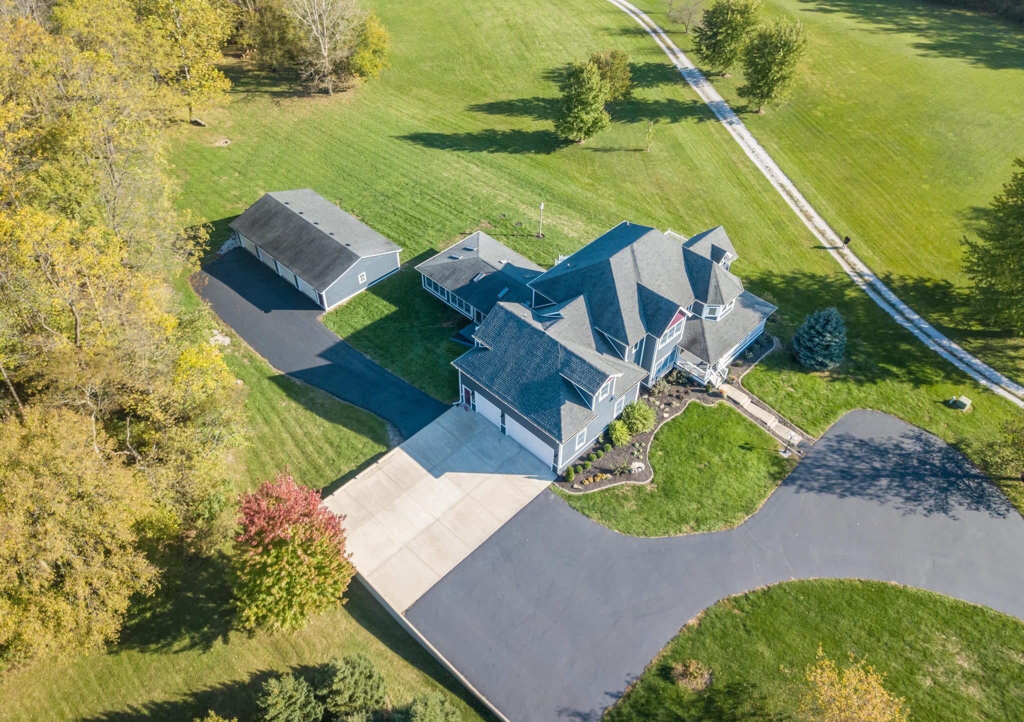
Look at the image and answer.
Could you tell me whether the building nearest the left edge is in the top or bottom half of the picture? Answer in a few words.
top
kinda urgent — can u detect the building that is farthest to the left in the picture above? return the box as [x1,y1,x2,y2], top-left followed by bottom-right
[233,191,403,311]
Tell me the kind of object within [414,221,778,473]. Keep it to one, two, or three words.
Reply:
house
